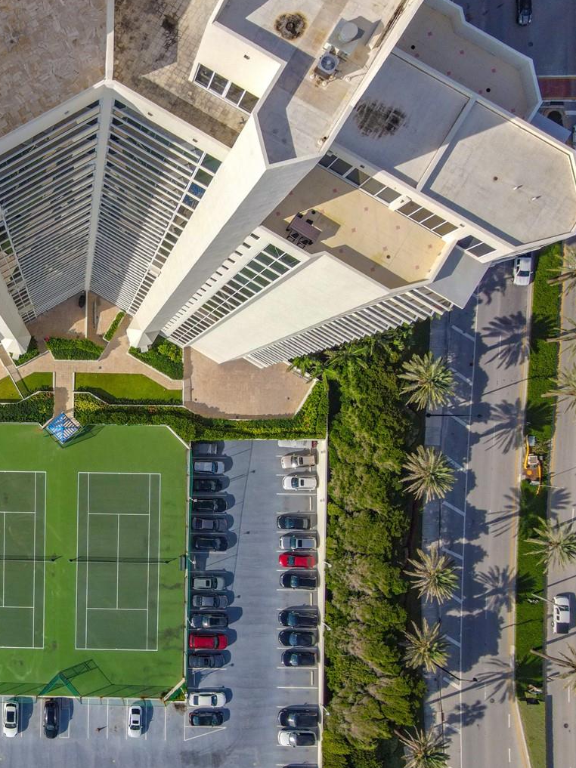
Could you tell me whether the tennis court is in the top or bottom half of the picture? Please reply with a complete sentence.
Seen from above, the tennis court lies in the bottom half of the view.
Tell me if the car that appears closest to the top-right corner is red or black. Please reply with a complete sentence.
In this view, the car that appears closest to the top-right corner is black.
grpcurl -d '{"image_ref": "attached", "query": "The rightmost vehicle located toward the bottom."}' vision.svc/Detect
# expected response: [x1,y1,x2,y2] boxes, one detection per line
[550,592,571,635]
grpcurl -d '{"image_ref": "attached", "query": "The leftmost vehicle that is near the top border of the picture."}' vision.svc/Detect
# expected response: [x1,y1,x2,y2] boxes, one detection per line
[515,0,535,28]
